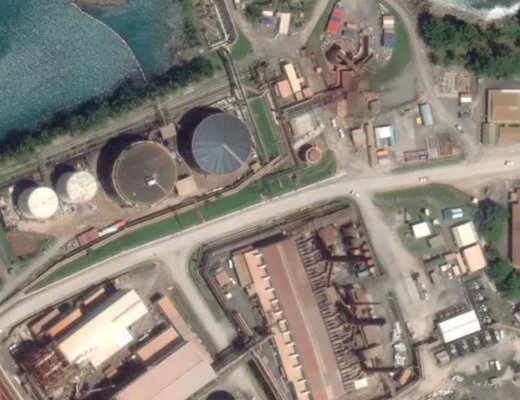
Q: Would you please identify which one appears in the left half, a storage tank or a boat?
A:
storage tank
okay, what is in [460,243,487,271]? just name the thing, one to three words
building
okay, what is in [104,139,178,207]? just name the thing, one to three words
storage tank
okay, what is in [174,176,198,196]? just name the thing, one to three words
shed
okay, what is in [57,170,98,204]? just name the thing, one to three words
storage tank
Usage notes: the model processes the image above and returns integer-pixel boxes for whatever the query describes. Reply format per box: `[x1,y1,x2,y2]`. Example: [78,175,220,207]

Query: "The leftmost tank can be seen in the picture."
[18,185,59,220]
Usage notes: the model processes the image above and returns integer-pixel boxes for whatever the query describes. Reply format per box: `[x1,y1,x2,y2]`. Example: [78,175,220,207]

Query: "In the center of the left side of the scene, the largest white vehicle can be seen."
[98,220,126,237]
